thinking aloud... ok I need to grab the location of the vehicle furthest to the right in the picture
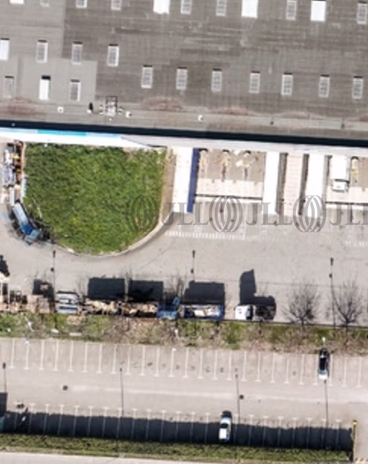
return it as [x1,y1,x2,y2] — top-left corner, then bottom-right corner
[331,158,351,195]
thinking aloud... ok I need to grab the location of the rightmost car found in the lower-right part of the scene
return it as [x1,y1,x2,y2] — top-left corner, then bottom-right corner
[316,351,330,379]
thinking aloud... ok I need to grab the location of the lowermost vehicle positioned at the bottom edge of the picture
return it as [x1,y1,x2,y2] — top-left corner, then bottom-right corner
[219,416,233,445]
